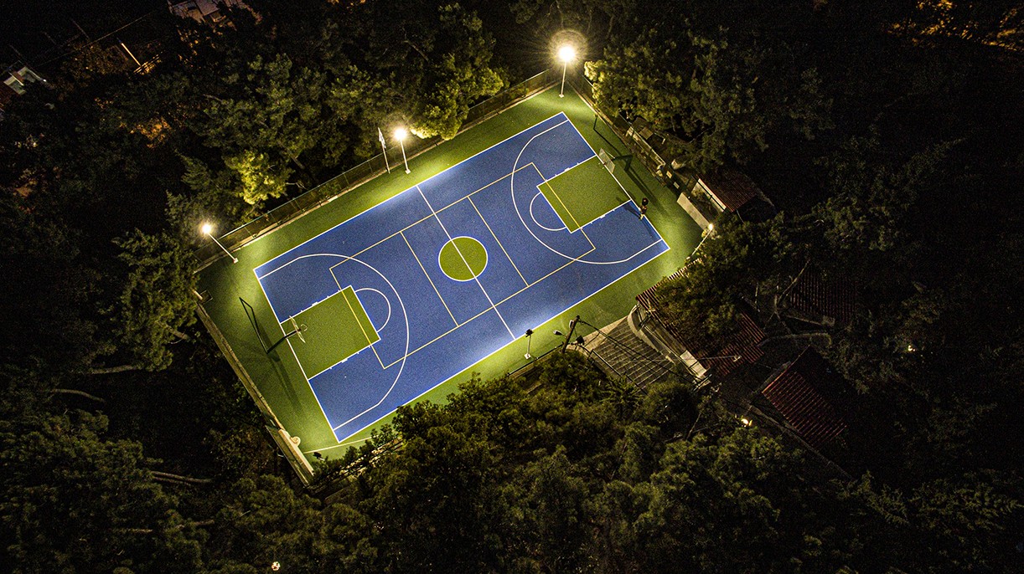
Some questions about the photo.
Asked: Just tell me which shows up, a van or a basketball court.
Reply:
basketball court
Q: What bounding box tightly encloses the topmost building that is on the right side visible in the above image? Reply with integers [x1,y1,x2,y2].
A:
[688,148,780,222]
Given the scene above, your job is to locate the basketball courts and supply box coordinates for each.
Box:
[194,82,707,489]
